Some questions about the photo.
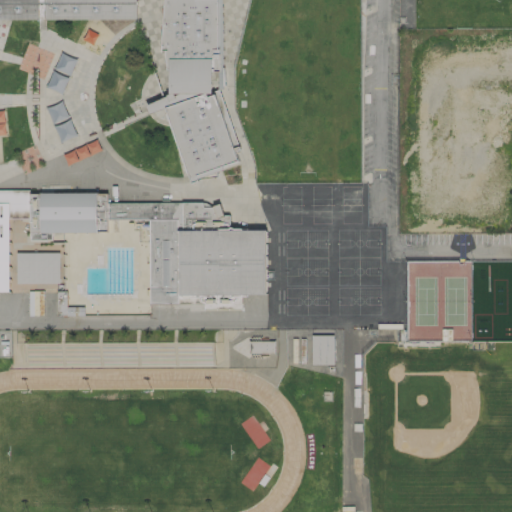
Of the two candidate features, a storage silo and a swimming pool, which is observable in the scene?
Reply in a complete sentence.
It is a swimming pool that can be seen here.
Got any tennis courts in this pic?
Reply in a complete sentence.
Yes, there's a tennis court down there.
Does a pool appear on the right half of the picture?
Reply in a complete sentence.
No, I can find no pool on the right half of the picture.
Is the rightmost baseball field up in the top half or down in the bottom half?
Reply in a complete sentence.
It is in the bottom half that the rightmost baseball field appears.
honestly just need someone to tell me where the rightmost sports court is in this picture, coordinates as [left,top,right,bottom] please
[474,262,512,342]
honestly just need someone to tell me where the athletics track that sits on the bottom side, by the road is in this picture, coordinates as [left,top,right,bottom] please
[0,369,306,512]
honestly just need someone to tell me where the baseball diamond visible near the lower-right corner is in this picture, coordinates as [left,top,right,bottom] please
[364,344,512,512]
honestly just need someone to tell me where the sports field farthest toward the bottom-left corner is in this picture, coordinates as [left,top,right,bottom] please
[0,390,284,512]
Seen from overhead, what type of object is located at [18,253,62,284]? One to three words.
building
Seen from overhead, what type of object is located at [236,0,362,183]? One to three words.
sports field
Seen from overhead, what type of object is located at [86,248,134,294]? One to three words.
swimming pool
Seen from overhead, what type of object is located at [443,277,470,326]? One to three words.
tennis court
